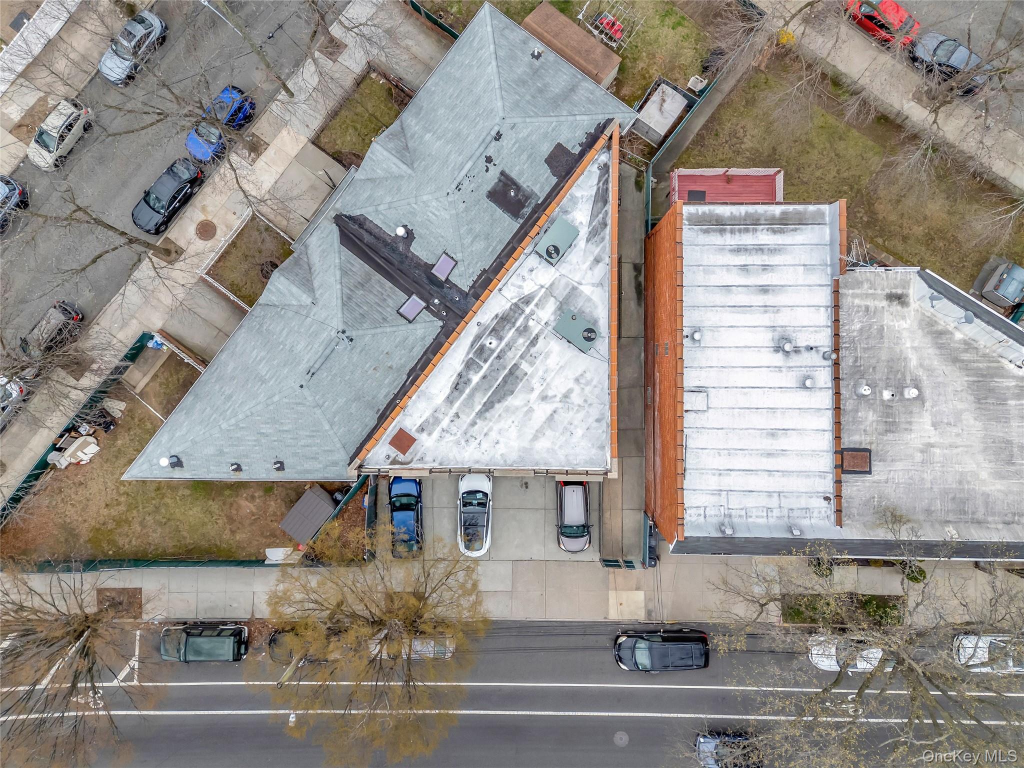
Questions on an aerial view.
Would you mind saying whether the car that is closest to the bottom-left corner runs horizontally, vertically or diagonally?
horizontally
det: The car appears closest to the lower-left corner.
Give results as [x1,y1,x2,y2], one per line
[164,624,247,666]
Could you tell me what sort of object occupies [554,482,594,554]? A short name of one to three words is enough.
car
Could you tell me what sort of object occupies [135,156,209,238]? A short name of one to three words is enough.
car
